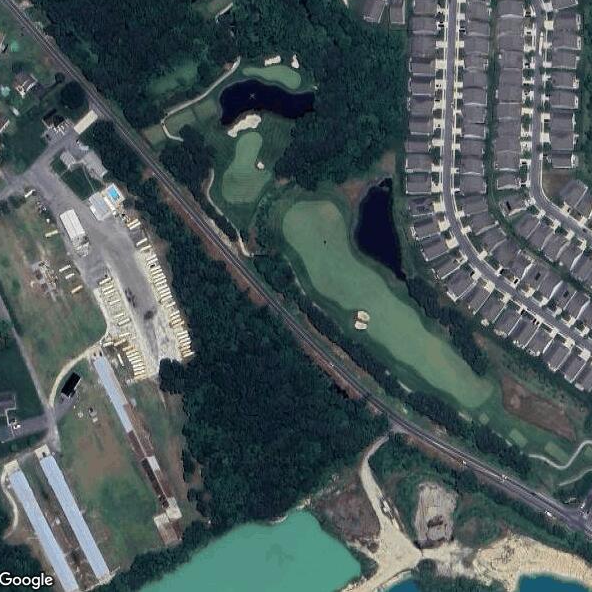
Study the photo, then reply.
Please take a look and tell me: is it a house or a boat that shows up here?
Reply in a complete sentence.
Visible in the photo is a house.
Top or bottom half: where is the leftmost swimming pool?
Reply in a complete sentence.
The top half of the photo is where the leftmost swimming pool is.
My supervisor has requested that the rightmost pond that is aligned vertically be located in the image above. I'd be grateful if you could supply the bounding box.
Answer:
[358,178,405,279]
